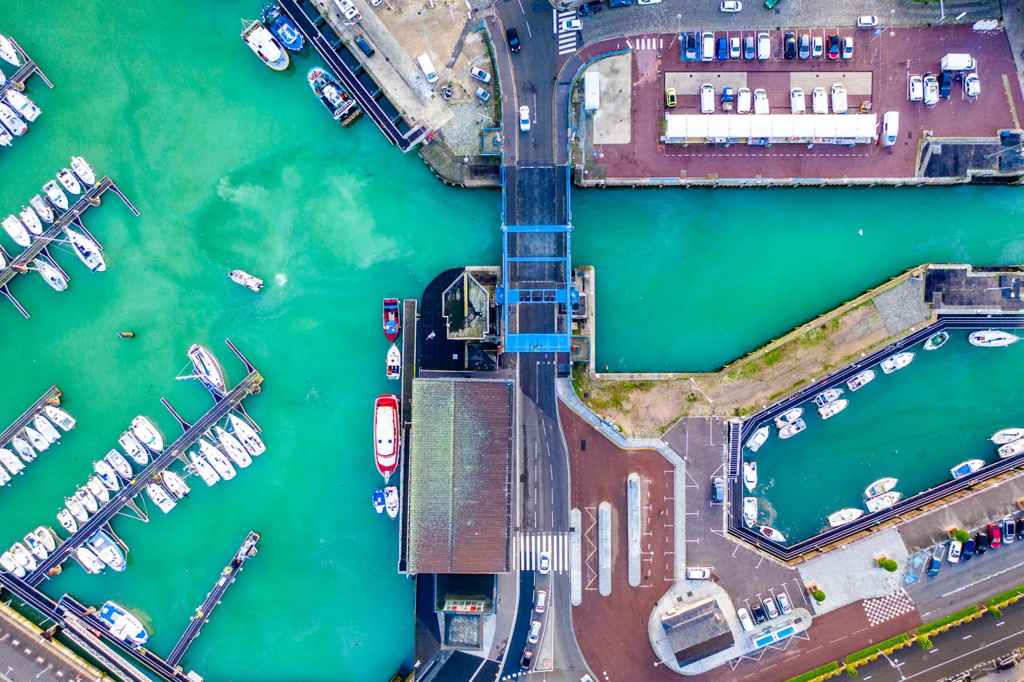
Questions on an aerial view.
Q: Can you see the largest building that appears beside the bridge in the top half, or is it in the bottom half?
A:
bottom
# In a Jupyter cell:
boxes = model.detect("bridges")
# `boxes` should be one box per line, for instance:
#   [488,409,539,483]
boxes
[496,166,579,353]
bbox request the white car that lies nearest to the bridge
[519,106,531,133]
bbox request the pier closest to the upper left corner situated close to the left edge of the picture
[0,36,56,117]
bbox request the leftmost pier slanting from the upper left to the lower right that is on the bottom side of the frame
[0,563,64,621]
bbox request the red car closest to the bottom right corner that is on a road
[987,523,1002,547]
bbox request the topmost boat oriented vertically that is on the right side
[742,459,757,493]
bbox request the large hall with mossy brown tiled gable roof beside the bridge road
[408,377,514,574]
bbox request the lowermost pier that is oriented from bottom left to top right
[167,532,260,668]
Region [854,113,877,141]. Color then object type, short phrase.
white tent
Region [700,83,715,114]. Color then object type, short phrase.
white vehicle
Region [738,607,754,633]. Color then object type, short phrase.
white car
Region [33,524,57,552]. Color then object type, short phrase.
white boat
